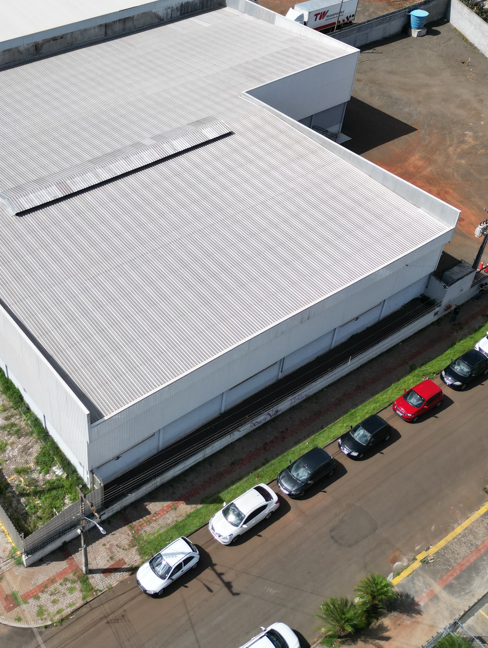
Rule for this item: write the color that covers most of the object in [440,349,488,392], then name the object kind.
black car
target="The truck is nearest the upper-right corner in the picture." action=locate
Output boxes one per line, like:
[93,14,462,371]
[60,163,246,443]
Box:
[288,0,359,30]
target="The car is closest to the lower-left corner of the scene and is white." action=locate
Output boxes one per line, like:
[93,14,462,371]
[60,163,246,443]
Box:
[133,533,203,593]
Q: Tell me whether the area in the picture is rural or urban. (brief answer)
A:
urban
